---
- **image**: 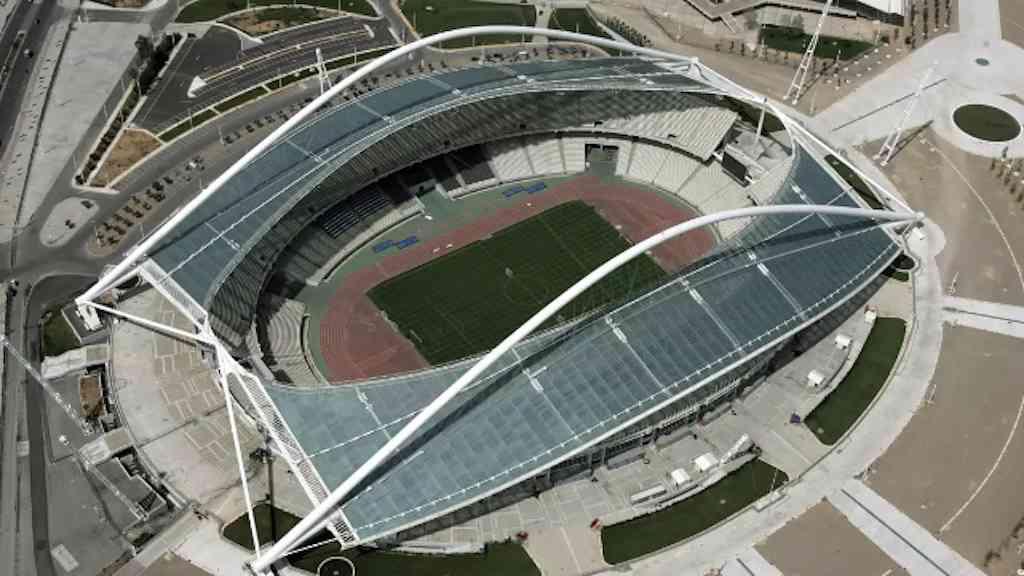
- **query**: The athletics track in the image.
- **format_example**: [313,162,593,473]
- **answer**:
[288,152,722,385]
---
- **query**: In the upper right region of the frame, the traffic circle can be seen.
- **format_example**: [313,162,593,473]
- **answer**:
[933,95,1024,155]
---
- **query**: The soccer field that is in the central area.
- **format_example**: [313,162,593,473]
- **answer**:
[367,199,672,369]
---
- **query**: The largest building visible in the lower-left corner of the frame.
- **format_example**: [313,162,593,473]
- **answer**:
[83,449,167,511]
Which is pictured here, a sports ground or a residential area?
sports ground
